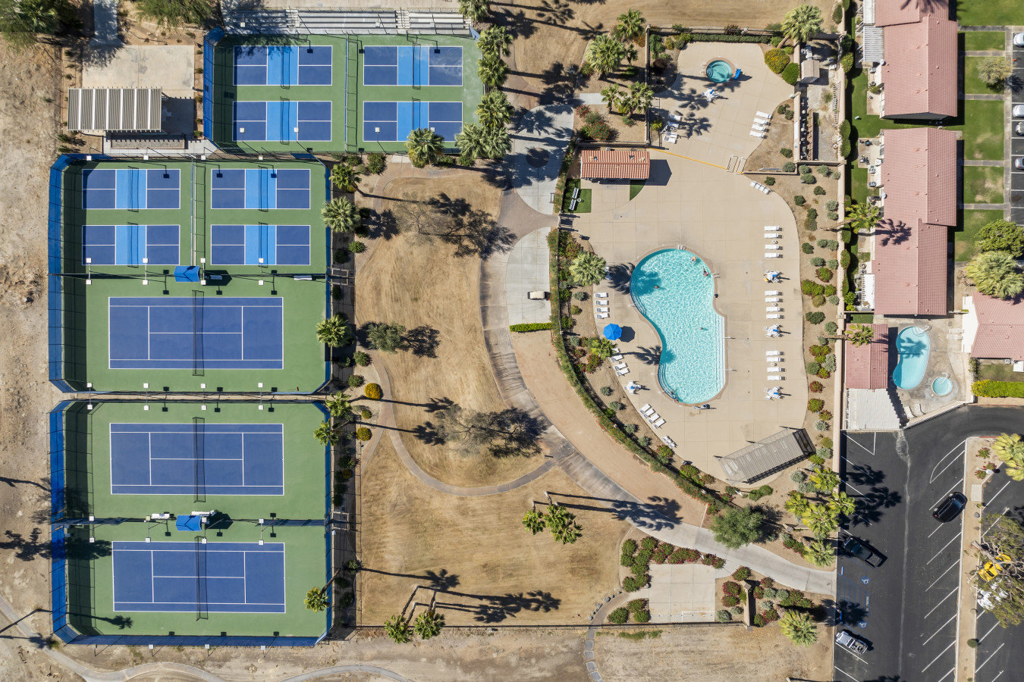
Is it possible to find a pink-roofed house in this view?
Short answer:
Yes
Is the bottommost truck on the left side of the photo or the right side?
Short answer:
right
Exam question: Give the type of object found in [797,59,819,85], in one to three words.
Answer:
shed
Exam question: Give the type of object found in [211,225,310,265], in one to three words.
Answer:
sports court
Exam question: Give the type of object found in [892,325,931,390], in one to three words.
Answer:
swimming pool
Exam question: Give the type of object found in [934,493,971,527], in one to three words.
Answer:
car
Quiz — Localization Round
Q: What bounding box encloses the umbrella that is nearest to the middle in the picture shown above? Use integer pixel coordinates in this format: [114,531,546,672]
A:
[604,324,621,340]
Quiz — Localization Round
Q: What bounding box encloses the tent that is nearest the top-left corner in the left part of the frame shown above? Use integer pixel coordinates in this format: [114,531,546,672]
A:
[174,266,206,283]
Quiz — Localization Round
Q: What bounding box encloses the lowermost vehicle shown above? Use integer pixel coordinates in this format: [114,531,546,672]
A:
[835,629,874,661]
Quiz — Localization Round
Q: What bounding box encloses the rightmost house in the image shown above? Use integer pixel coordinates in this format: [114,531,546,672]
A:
[962,292,1024,359]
